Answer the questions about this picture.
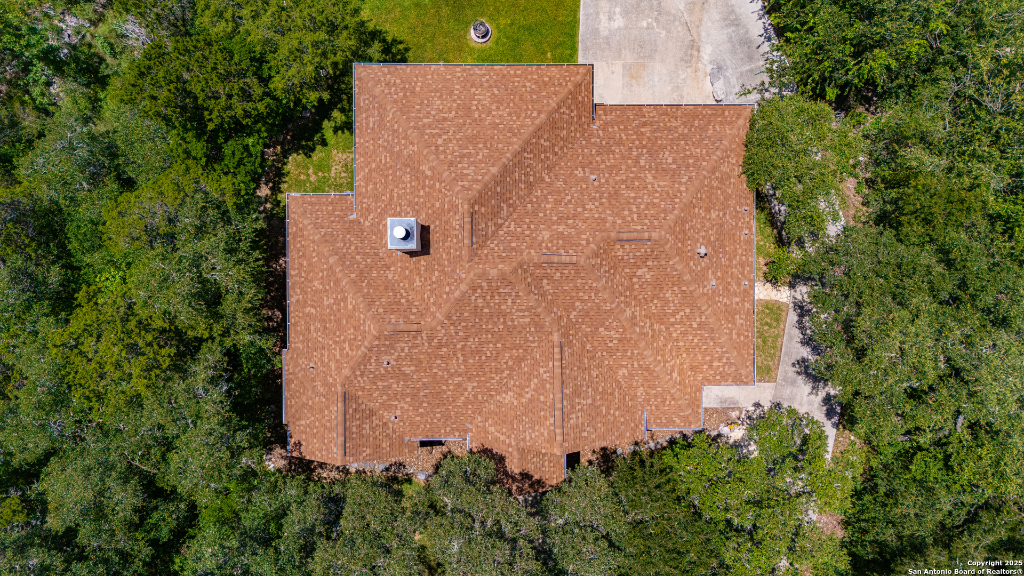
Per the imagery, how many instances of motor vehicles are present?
0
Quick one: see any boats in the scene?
No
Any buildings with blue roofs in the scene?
No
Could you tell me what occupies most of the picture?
trees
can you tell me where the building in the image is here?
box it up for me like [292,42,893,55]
[280,63,757,492]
